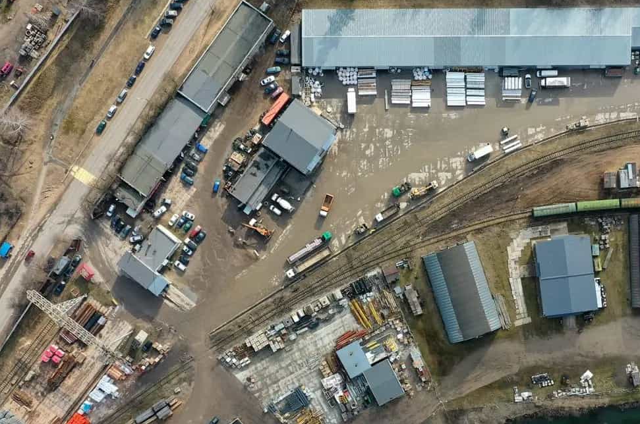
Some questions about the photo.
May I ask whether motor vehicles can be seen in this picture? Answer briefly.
Yes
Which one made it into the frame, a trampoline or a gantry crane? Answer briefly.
gantry crane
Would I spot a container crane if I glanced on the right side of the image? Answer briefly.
No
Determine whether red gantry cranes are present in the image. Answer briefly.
No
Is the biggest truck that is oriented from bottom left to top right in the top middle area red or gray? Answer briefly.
red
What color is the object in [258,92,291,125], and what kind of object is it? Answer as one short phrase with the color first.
red truck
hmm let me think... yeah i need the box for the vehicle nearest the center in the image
[320,193,333,217]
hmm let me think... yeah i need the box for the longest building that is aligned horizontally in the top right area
[302,8,632,71]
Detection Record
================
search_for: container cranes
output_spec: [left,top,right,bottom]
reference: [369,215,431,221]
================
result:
[25,292,141,367]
